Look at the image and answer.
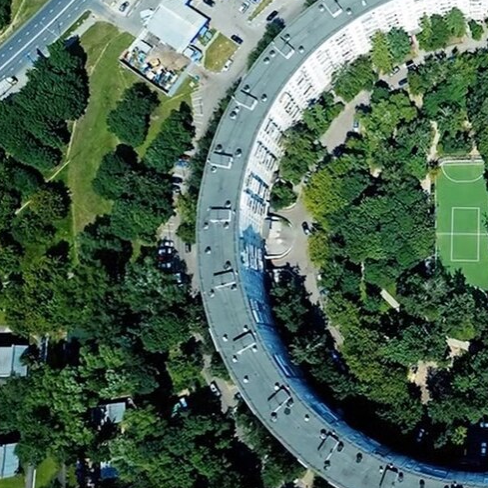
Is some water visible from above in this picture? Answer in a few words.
No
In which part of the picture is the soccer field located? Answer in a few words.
right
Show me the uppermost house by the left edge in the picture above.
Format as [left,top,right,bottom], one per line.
[0,345,36,376]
